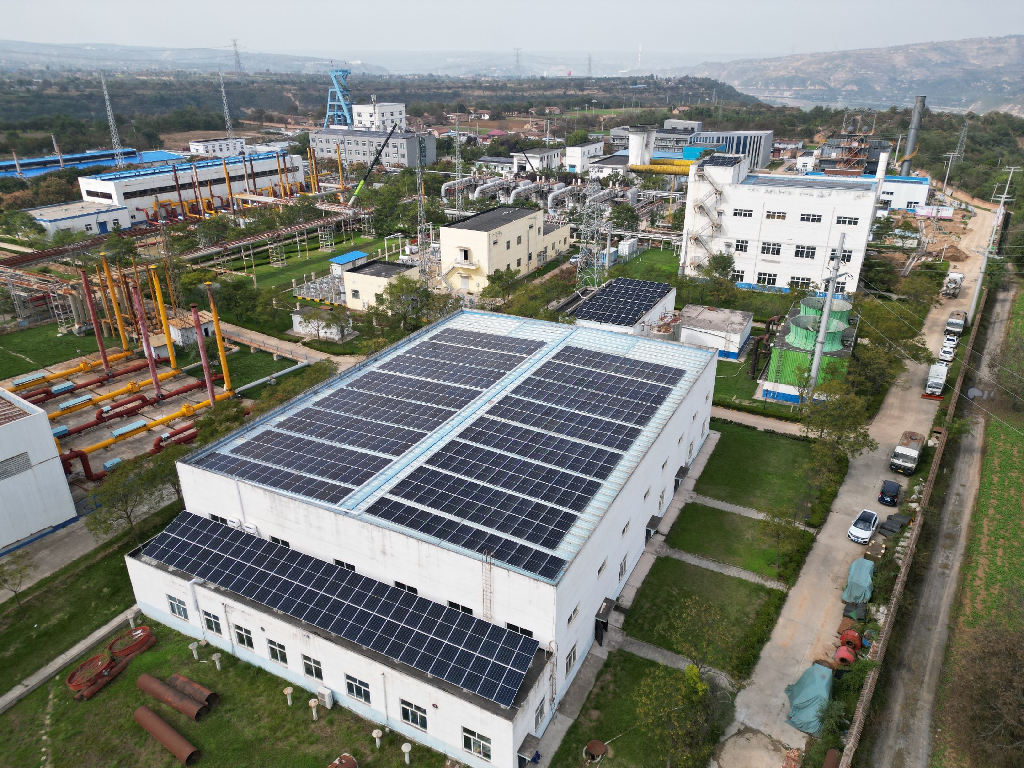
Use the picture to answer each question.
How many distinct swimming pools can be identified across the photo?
0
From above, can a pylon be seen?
Yes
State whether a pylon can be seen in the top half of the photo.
Yes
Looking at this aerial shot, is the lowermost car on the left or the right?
right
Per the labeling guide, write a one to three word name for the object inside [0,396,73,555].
building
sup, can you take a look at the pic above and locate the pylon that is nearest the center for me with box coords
[567,165,612,299]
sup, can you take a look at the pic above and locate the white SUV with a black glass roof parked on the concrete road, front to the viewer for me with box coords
[852,505,877,539]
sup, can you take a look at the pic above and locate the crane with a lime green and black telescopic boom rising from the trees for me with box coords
[340,122,399,214]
